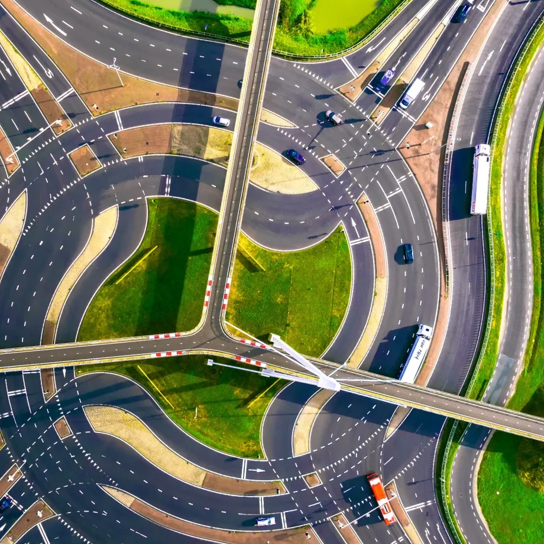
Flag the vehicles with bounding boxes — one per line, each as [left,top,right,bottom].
[470,146,489,216]
[400,79,423,107]
[286,149,305,164]
[211,115,230,126]
[367,471,396,526]
[0,494,12,512]
[377,66,395,90]
[395,328,430,383]
[323,109,343,127]
[455,0,471,21]
[403,244,412,263]
[255,516,275,526]
[233,79,244,88]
